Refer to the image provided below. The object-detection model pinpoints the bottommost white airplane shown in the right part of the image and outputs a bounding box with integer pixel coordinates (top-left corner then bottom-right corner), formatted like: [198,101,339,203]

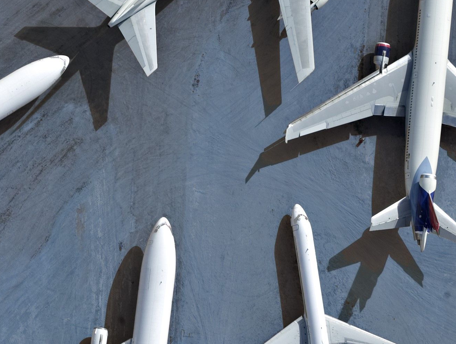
[264,204,394,344]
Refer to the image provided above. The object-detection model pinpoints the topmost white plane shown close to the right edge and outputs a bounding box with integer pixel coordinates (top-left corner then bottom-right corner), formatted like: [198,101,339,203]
[282,0,456,252]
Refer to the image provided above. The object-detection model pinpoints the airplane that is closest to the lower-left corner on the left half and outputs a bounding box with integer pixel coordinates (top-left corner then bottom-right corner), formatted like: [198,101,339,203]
[125,217,175,344]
